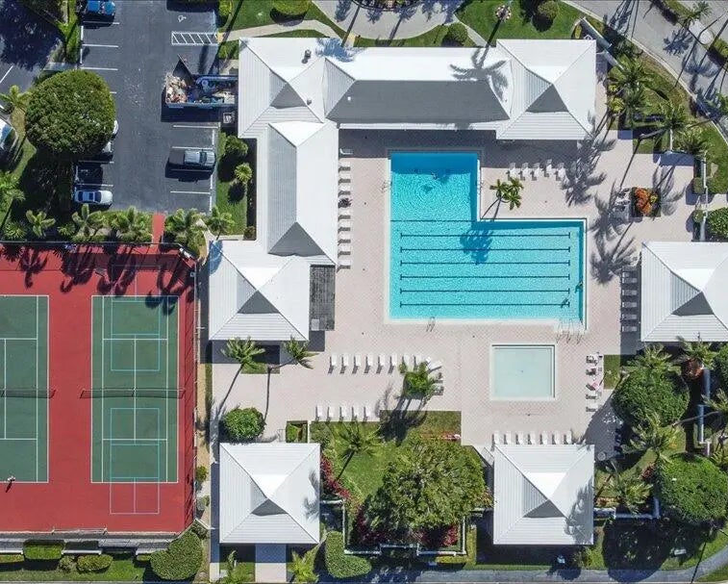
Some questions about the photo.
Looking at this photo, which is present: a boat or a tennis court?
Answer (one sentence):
The image shows a tennis court.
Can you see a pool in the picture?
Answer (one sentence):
Yes, there's a pool here.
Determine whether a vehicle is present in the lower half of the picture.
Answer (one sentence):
No, there's no vehicle to be seen in the lower half of the picture.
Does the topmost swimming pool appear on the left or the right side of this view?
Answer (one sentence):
It is on the right.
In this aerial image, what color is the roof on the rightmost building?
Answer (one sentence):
The roof over the rightmost building appears white.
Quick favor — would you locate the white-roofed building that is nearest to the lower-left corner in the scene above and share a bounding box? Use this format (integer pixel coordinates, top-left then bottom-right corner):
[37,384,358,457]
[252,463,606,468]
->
[220,443,320,543]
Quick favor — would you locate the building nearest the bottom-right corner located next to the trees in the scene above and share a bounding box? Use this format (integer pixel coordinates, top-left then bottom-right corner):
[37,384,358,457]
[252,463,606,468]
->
[494,443,594,545]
